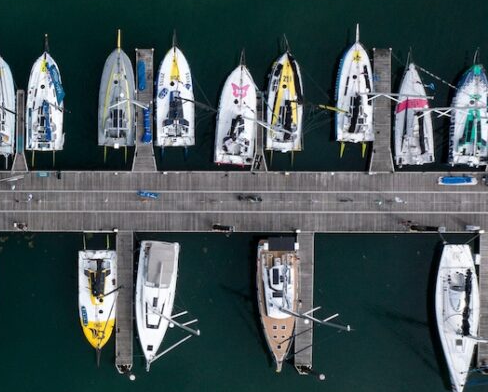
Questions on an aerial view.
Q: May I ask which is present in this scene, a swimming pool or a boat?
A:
boat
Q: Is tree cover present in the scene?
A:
No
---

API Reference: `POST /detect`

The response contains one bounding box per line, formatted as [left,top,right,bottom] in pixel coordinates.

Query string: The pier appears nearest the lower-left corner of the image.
[114,231,135,374]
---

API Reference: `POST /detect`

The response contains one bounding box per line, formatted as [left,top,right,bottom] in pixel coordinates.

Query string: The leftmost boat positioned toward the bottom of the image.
[76,233,124,367]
